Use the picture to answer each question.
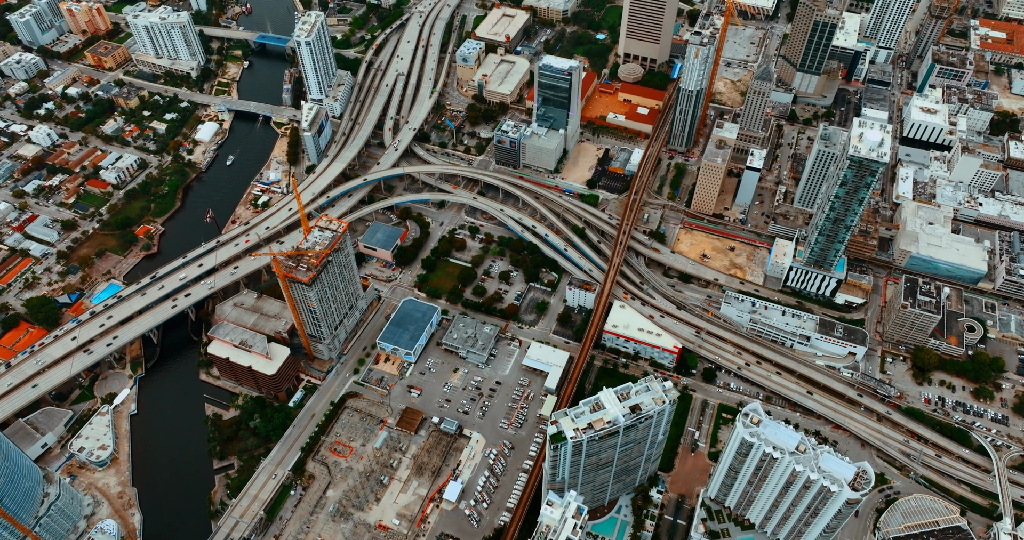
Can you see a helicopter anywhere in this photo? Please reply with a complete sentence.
No, there isn't any helicopter down there.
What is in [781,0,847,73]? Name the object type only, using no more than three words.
building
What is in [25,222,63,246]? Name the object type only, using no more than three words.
house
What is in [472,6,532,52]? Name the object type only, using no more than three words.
building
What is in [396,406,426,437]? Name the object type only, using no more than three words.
shed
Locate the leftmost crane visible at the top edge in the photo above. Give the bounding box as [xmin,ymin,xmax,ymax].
[695,0,757,145]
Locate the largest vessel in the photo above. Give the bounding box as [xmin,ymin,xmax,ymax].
[282,69,296,102]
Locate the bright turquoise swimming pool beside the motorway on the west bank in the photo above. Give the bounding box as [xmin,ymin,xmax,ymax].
[86,281,127,305]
